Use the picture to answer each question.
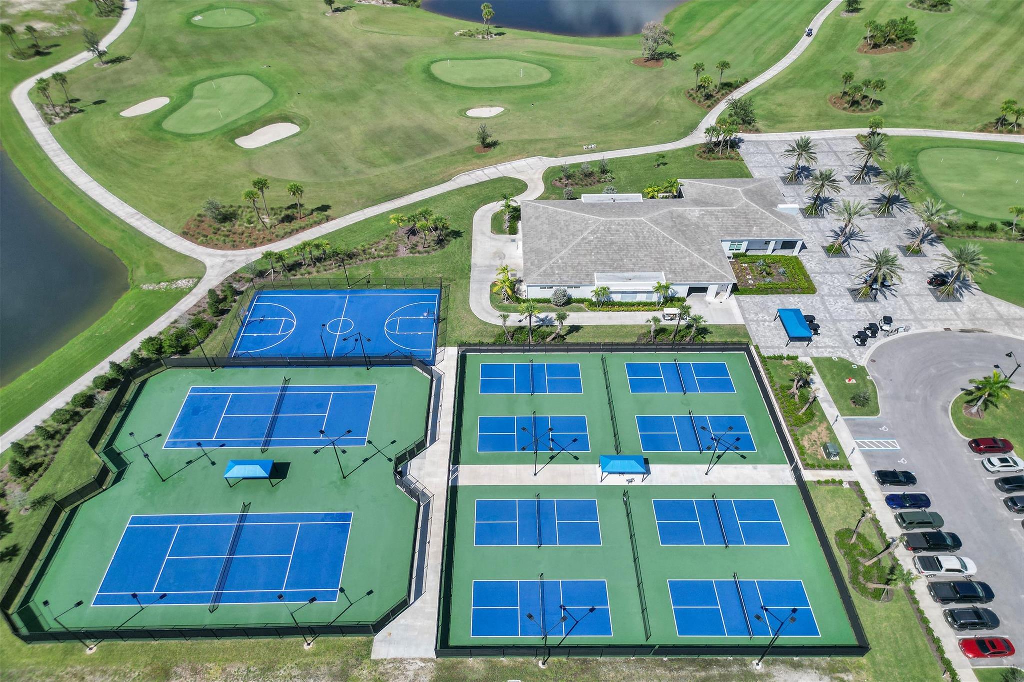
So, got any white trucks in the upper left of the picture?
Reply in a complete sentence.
No, there is no white truck in the upper left of the picture.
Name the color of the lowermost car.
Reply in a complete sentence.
The lowermost car is red.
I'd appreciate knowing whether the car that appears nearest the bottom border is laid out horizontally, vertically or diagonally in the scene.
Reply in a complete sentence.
In this picture, the car that appears nearest the bottom border is oriented horizontally.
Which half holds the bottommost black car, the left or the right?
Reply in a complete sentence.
It is on the right.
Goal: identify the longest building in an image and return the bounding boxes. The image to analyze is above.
[521,177,808,301]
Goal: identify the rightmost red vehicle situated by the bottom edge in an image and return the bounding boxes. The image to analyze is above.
[958,632,1021,658]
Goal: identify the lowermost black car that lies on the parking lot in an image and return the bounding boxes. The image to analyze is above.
[943,604,1005,630]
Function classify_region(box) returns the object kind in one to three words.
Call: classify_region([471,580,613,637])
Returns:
sports court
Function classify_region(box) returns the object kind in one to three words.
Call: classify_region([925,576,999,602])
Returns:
truck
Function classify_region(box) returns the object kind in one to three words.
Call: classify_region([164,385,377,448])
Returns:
tennis court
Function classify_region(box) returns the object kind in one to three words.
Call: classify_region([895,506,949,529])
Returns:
car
